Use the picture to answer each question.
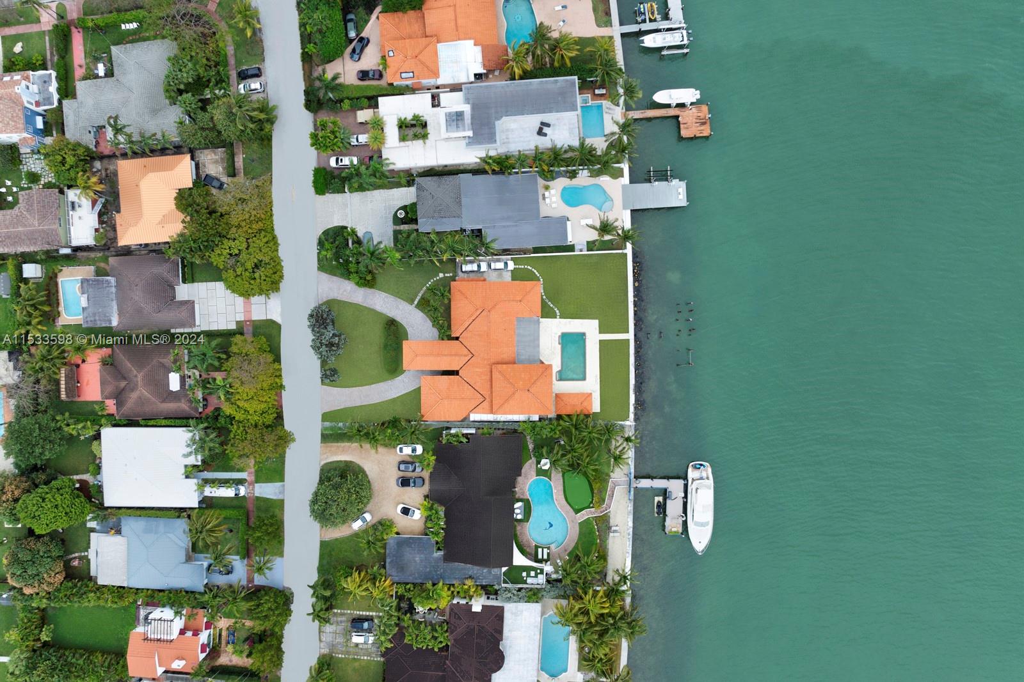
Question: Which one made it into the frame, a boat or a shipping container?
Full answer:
The image shows a boat.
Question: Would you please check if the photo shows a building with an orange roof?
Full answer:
Yes, the frame does contain a building with an orange roof.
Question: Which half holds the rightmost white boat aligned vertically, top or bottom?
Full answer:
Seen from above, the rightmost white boat aligned vertically lies in the bottom half of the view.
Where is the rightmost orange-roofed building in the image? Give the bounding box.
[555,393,592,414]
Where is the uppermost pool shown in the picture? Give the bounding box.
[501,0,539,54]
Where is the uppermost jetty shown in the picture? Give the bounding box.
[619,0,684,34]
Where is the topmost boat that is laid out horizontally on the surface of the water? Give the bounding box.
[637,31,689,50]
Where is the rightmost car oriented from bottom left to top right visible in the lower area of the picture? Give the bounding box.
[350,511,373,532]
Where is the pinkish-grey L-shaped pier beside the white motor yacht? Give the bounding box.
[632,476,686,536]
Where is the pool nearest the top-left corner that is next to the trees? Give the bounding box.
[58,277,82,319]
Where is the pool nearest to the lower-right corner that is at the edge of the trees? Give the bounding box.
[540,611,572,680]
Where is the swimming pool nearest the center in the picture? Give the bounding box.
[556,331,587,382]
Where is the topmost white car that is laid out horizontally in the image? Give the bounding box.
[237,80,264,93]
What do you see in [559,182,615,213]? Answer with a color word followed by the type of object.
blue swimming pool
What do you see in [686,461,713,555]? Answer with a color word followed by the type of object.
white boat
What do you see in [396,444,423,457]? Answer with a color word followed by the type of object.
white vehicle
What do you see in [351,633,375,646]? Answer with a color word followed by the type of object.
white vehicle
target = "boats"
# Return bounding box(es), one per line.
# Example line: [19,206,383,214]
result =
[648,0,656,21]
[656,500,662,517]
[686,461,713,555]
[653,89,698,105]
[637,31,689,50]
[637,0,645,20]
